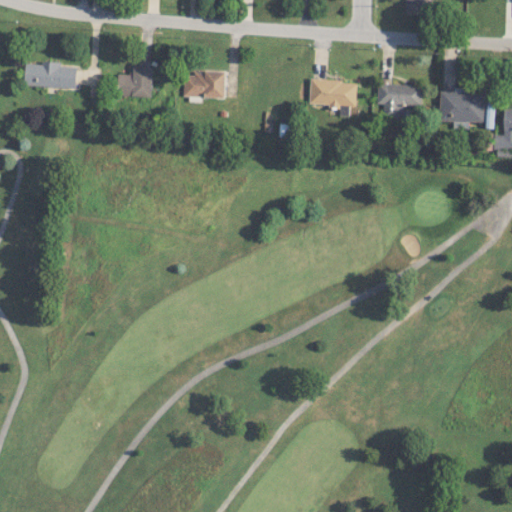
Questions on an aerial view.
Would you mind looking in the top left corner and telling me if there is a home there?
Yes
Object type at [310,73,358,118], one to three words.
house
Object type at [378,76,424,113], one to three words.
house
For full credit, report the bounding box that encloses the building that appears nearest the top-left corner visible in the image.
[25,62,80,94]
